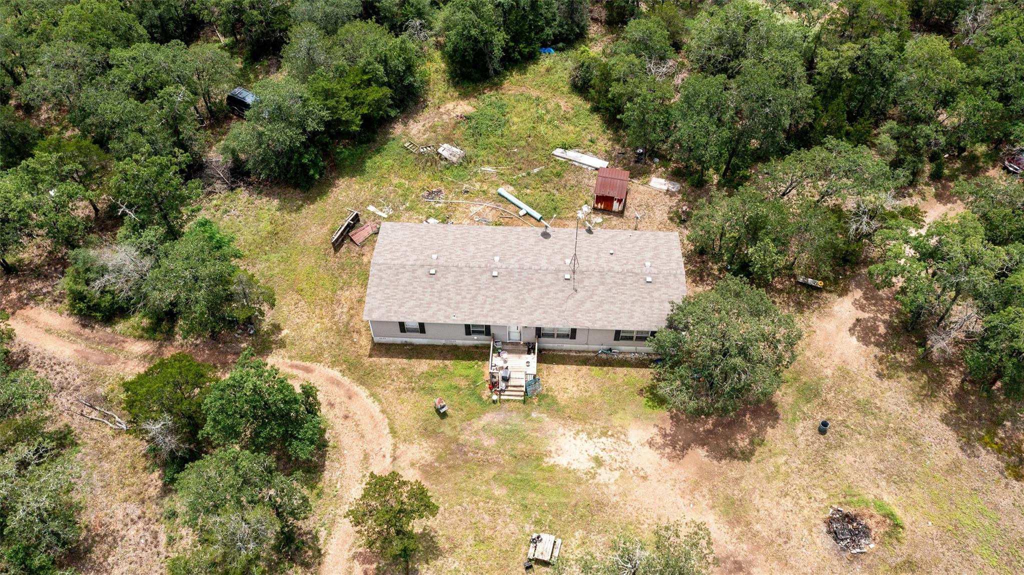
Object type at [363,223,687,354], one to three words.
house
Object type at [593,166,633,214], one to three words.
shed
